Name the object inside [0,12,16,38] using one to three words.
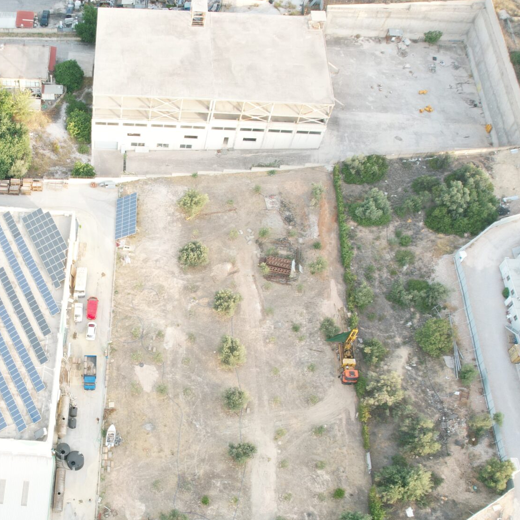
shed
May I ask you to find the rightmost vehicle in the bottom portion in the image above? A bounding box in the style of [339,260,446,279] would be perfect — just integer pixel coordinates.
[340,322,361,388]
